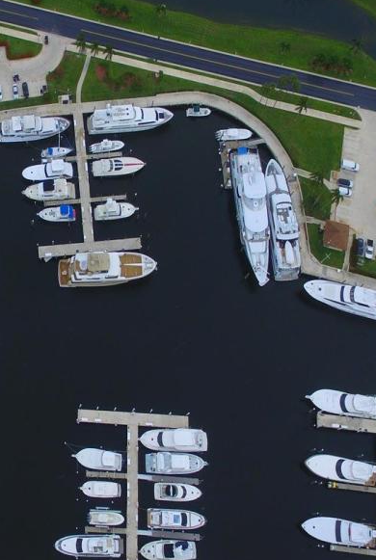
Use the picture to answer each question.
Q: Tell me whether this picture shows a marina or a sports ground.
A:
marina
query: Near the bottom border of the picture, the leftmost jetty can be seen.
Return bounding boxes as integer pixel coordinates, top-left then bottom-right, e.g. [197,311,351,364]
[78,409,200,560]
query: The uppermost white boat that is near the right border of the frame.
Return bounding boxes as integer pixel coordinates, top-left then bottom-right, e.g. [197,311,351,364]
[305,282,376,318]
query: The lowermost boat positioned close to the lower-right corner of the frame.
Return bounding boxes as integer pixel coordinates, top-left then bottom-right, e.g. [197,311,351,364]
[303,514,376,548]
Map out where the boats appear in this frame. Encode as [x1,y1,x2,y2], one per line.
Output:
[306,391,376,418]
[79,481,121,498]
[154,482,202,501]
[69,447,122,471]
[306,452,376,488]
[303,514,376,548]
[266,157,299,289]
[41,135,73,159]
[94,202,141,222]
[56,253,163,289]
[19,182,76,202]
[305,282,376,318]
[137,540,198,560]
[143,509,207,530]
[87,142,124,154]
[137,427,209,452]
[86,106,174,135]
[35,204,76,222]
[0,116,71,146]
[91,152,146,178]
[86,508,124,525]
[23,157,75,182]
[183,108,211,119]
[215,130,252,142]
[145,452,208,474]
[55,532,124,557]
